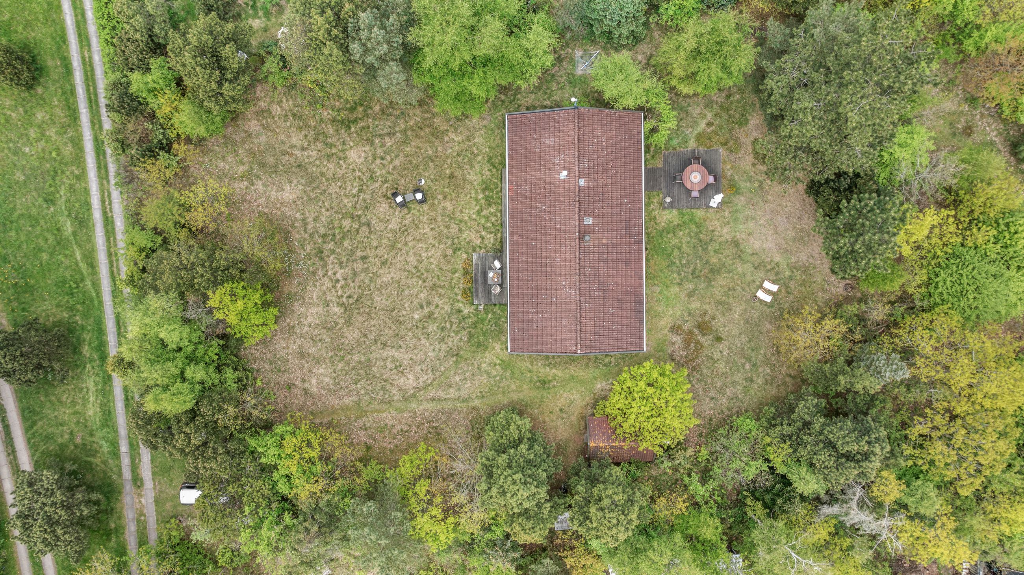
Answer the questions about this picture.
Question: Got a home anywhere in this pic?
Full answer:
Yes, a home can be made out from above.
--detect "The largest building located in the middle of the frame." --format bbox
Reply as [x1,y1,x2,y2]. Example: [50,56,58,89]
[505,106,646,355]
